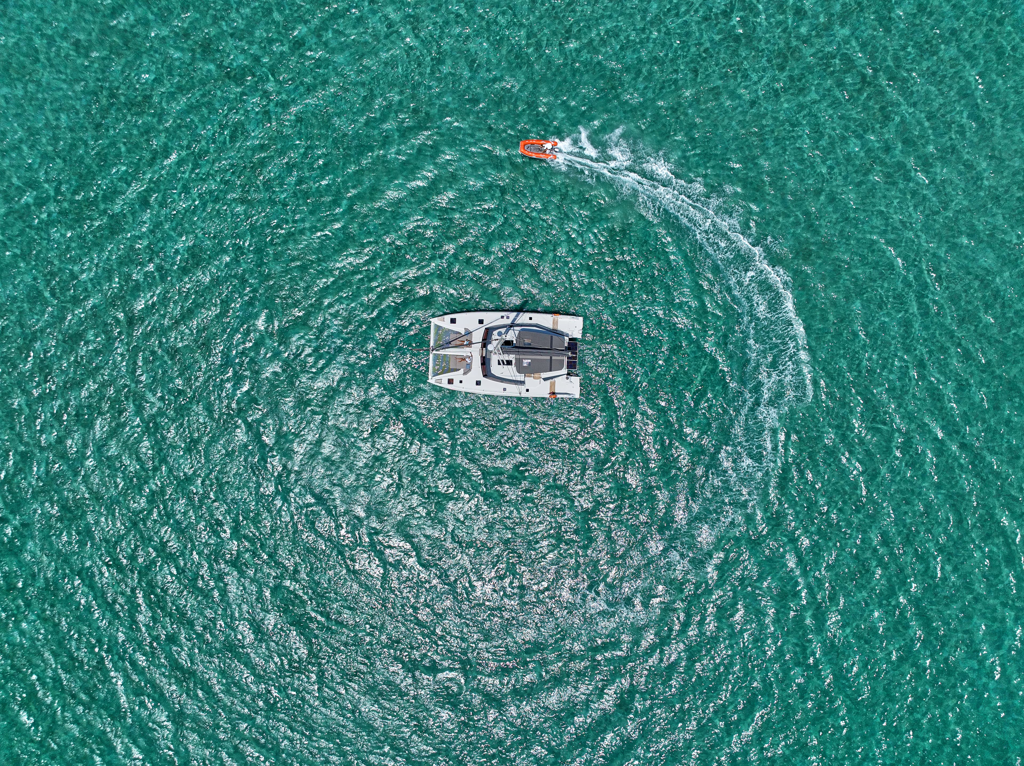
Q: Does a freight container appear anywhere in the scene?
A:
No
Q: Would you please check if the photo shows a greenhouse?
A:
No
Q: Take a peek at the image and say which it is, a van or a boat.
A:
boat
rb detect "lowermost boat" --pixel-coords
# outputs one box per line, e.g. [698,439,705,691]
[410,311,583,398]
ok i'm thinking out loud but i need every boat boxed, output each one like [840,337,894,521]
[520,139,560,159]
[410,311,583,398]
